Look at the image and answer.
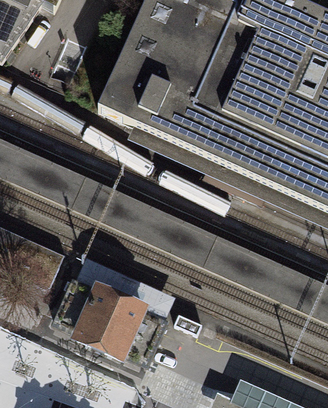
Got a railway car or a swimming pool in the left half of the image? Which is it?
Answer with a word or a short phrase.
railway car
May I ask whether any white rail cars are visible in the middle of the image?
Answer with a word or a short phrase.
Yes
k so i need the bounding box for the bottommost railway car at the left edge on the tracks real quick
[11,86,84,136]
